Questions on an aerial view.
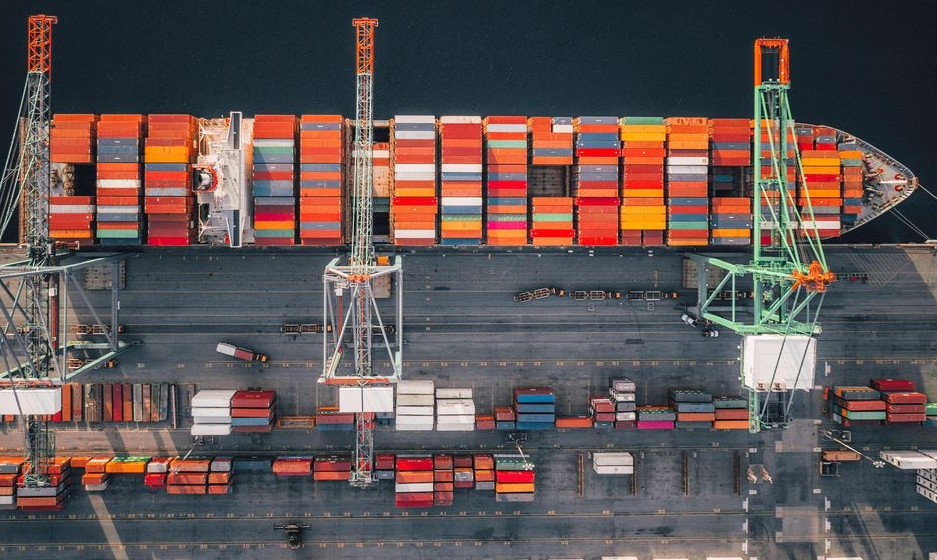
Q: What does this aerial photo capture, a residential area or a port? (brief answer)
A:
port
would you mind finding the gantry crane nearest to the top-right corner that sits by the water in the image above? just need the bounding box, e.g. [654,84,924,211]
[675,36,834,433]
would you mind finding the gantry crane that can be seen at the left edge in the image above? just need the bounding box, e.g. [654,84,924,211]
[0,14,142,490]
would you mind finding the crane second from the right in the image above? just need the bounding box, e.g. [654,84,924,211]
[323,16,415,487]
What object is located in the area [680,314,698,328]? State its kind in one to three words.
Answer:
vehicle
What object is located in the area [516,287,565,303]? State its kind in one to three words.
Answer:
vehicle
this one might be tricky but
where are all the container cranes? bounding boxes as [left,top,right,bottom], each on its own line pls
[323,16,415,487]
[675,36,834,433]
[0,14,142,490]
